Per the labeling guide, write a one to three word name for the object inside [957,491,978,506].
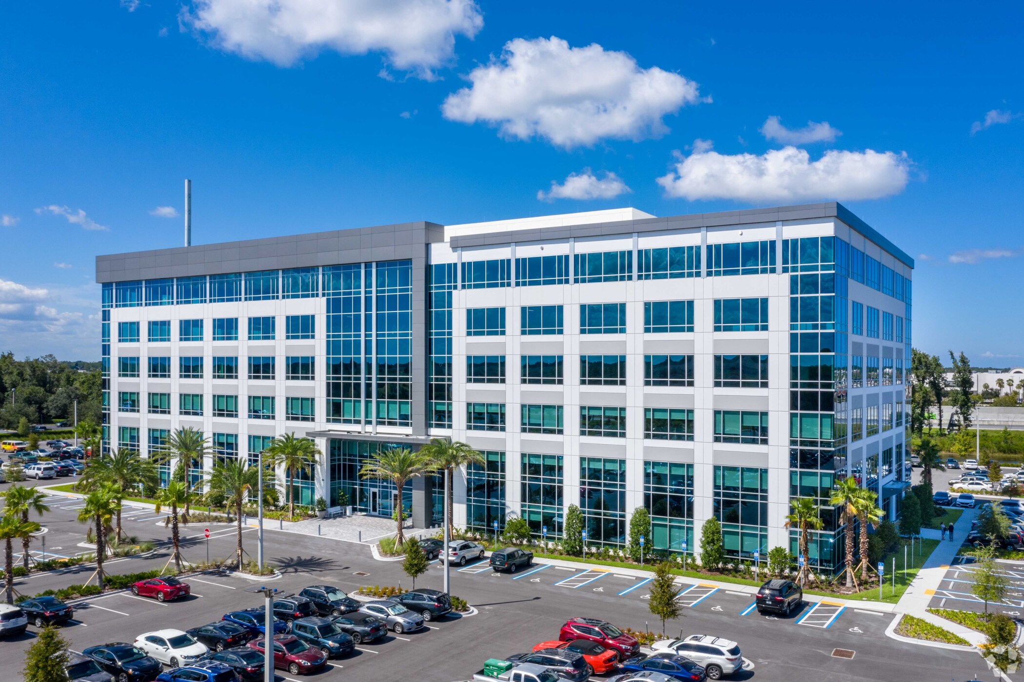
car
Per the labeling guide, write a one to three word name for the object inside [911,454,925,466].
vehicle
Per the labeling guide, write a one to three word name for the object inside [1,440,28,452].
vehicle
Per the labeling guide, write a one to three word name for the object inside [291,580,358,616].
car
